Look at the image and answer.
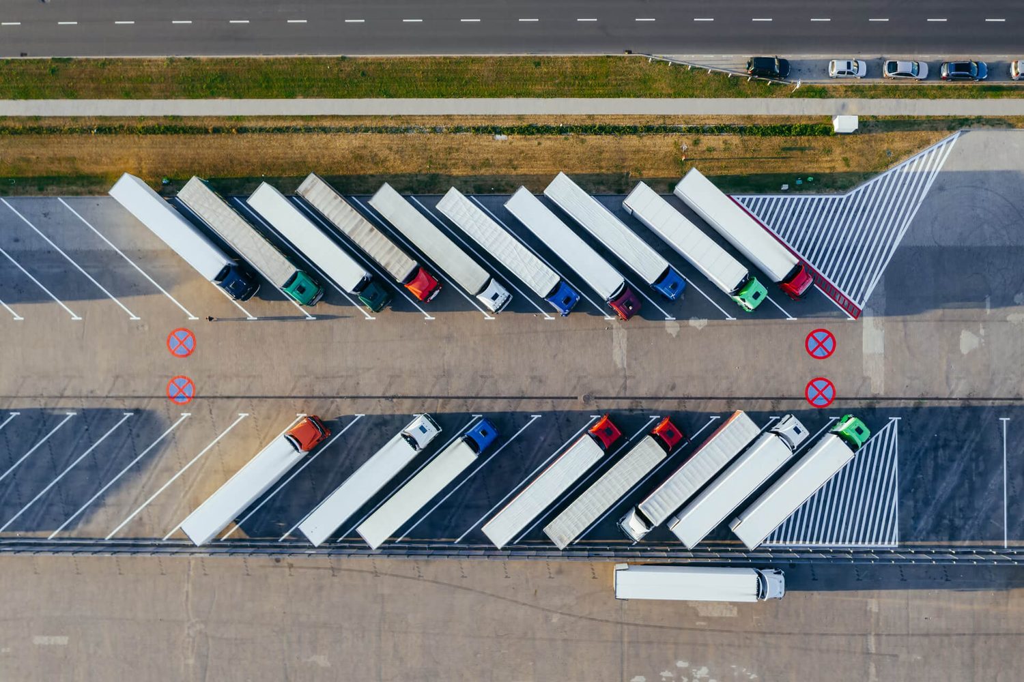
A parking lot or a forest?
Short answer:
parking lot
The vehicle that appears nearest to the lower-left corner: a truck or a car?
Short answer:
truck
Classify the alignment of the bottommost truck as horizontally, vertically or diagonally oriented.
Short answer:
horizontally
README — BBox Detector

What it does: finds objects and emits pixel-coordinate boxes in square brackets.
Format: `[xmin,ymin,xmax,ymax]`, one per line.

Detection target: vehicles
[745,53,788,77]
[181,412,334,546]
[937,57,985,80]
[826,57,865,78]
[177,176,331,310]
[880,57,926,79]
[109,173,267,305]
[436,187,581,318]
[670,168,817,301]
[357,414,501,549]
[369,183,514,316]
[615,408,760,543]
[665,412,810,549]
[543,414,685,549]
[299,410,444,546]
[505,186,644,323]
[482,413,624,549]
[611,561,786,603]
[543,172,689,304]
[247,182,395,316]
[724,412,873,550]
[1008,61,1024,80]
[296,173,444,305]
[619,182,769,313]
